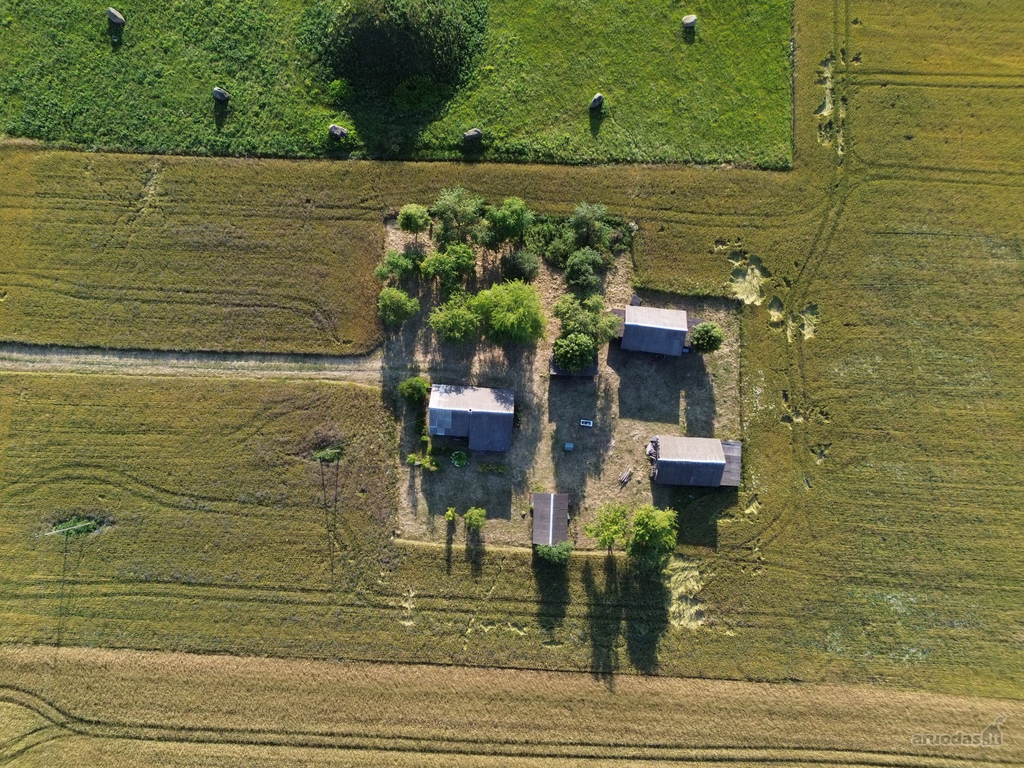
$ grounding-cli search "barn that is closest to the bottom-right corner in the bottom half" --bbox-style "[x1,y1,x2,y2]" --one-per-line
[651,435,741,487]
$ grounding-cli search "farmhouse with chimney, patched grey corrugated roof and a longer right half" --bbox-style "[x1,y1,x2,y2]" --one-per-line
[428,384,515,457]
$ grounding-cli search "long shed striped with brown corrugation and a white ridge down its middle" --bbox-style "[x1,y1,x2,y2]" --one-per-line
[531,491,570,546]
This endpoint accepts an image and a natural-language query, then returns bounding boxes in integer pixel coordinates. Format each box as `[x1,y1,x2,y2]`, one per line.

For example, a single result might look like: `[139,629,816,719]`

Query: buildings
[651,435,741,487]
[548,340,599,378]
[428,384,515,457]
[531,491,570,546]
[608,305,697,354]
